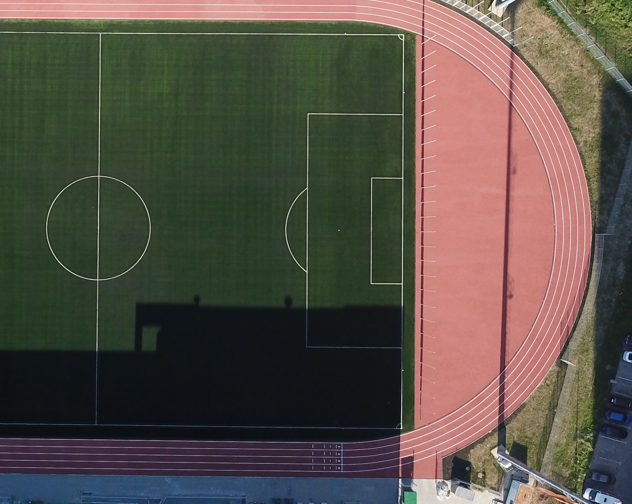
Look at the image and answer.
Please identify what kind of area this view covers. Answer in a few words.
sports ground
